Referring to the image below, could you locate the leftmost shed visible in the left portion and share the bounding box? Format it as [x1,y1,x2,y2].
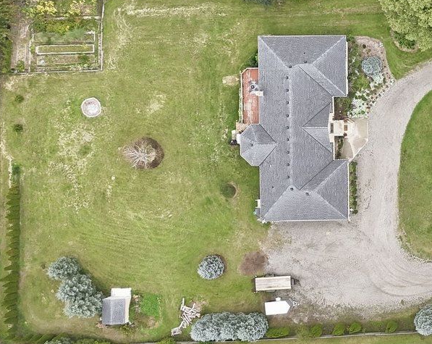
[104,286,138,326]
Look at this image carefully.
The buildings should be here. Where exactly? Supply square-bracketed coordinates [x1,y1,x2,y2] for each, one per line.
[104,286,138,326]
[240,35,352,222]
